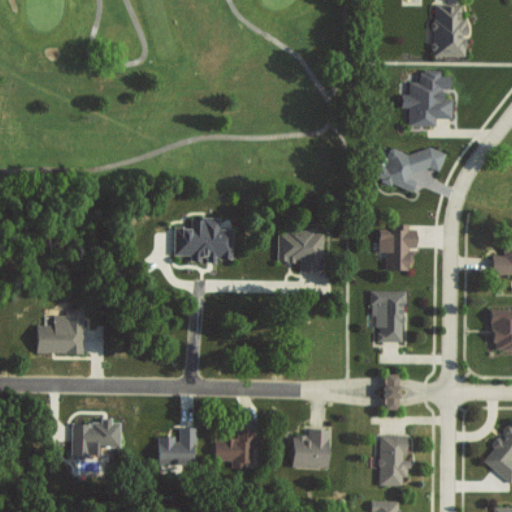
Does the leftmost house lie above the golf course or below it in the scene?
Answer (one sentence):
As seen from overhead, the leftmost house falls below the golf course in the picture.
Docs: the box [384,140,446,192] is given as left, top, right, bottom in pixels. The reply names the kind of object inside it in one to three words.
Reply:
house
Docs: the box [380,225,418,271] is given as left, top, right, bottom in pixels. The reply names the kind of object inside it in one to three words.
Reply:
house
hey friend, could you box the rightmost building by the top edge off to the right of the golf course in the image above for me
[432,0,475,58]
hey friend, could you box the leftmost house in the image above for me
[37,316,84,355]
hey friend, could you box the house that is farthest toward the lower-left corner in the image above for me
[72,420,122,459]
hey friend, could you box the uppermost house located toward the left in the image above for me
[175,218,234,264]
